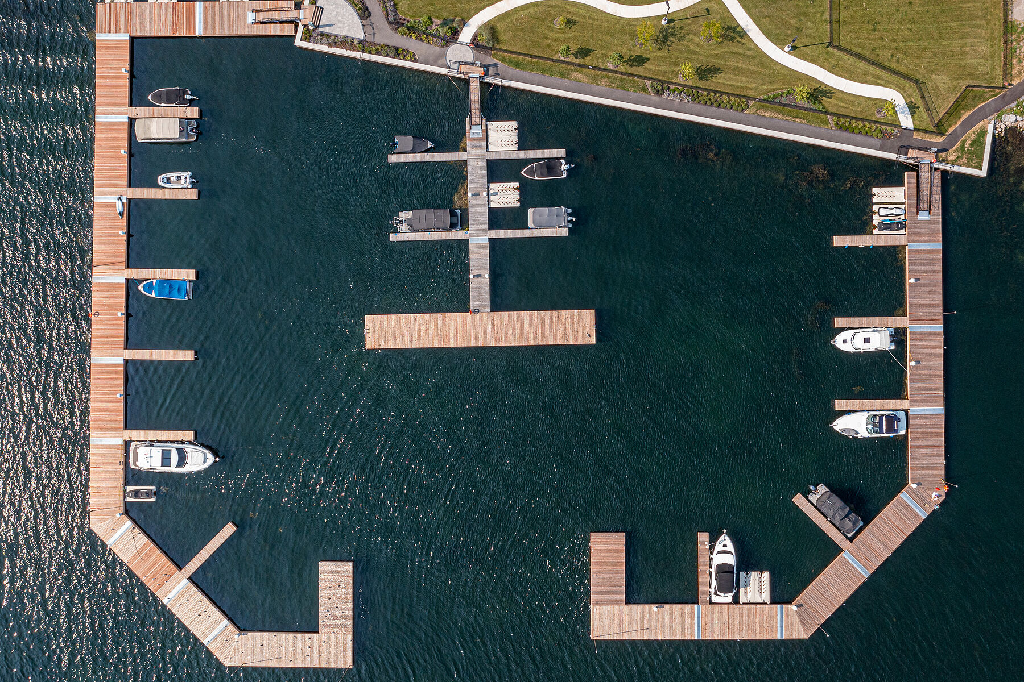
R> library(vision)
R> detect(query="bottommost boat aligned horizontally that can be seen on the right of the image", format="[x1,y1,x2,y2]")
[831,410,908,439]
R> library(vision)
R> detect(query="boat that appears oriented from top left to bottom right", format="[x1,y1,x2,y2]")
[804,481,863,536]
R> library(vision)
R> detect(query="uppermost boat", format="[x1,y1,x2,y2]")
[149,86,199,107]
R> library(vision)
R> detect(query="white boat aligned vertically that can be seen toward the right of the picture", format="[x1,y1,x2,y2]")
[709,531,737,604]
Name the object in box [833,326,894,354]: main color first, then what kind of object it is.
white boat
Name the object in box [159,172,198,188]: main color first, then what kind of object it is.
white boat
